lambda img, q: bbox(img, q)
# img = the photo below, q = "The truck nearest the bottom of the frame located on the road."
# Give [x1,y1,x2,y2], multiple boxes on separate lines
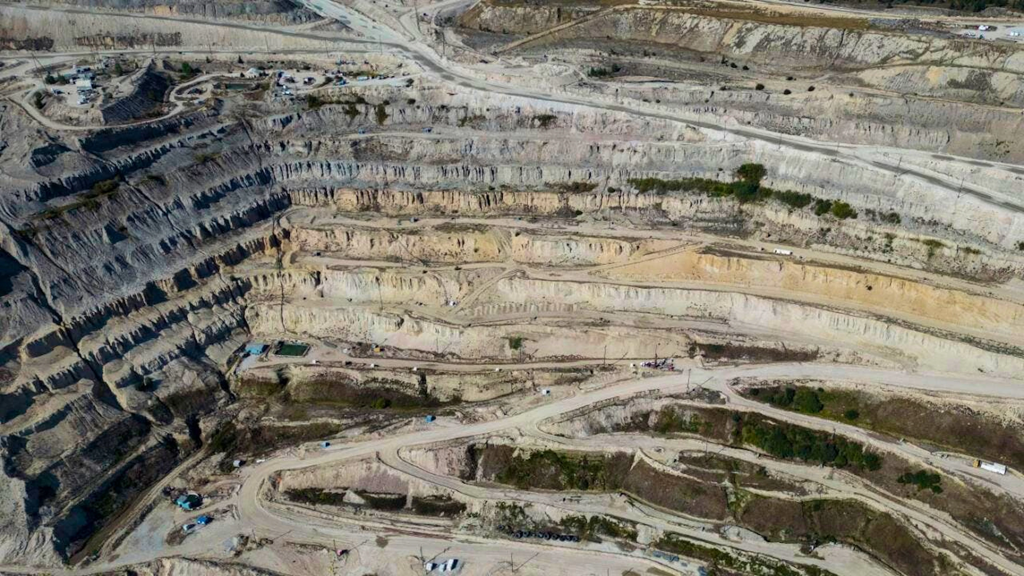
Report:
[973,460,1010,481]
